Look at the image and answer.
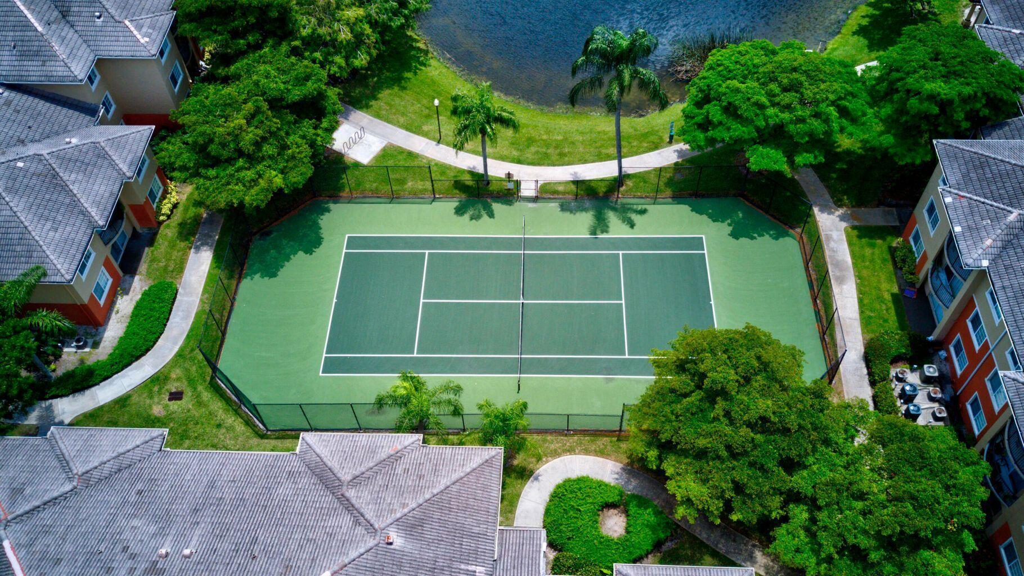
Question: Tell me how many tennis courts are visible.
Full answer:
Just 1 tennis court appears in this view.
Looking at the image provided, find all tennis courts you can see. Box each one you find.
[220,198,828,431]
